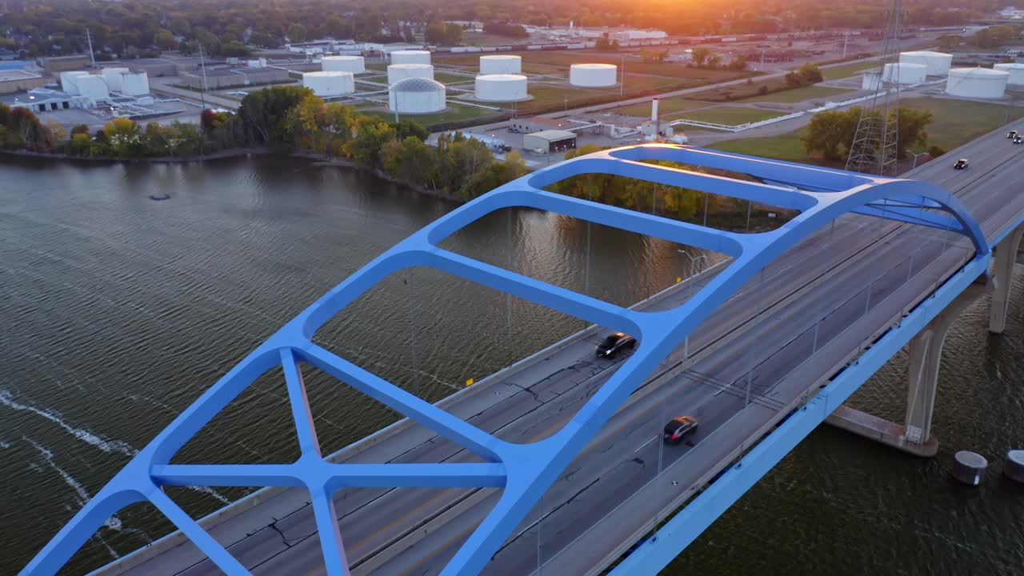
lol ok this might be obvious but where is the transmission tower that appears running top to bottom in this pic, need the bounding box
[847,0,923,177]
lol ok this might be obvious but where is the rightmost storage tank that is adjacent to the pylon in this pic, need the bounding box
[937,64,1020,99]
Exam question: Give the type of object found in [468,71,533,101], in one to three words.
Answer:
storage tank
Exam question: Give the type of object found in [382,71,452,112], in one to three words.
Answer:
storage tank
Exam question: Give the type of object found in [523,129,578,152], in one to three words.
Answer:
building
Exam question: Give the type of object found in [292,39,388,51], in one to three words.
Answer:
building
